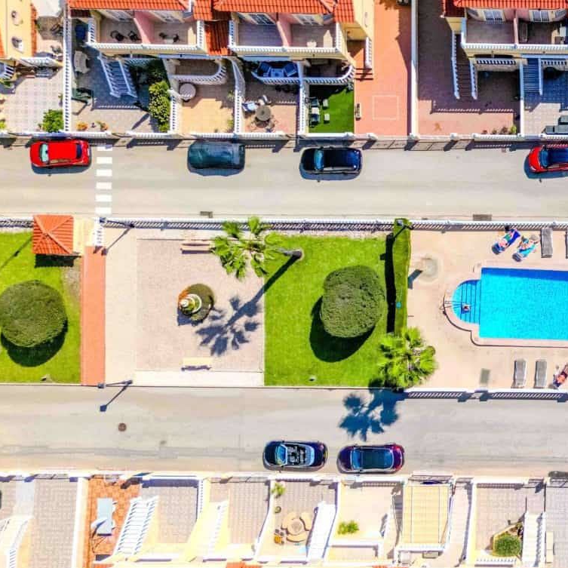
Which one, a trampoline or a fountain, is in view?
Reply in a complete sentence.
Looking from above, you can make out a fountain.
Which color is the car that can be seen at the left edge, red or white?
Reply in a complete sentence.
The car that can be seen at the left edge is red.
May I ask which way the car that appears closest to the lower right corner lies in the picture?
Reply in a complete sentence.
The car that appears closest to the lower right corner is laid out horizontally.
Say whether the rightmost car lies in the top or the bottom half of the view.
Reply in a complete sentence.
The top half of the photo is where the rightmost car is.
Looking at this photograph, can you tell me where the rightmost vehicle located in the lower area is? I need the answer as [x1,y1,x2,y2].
[336,442,402,475]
